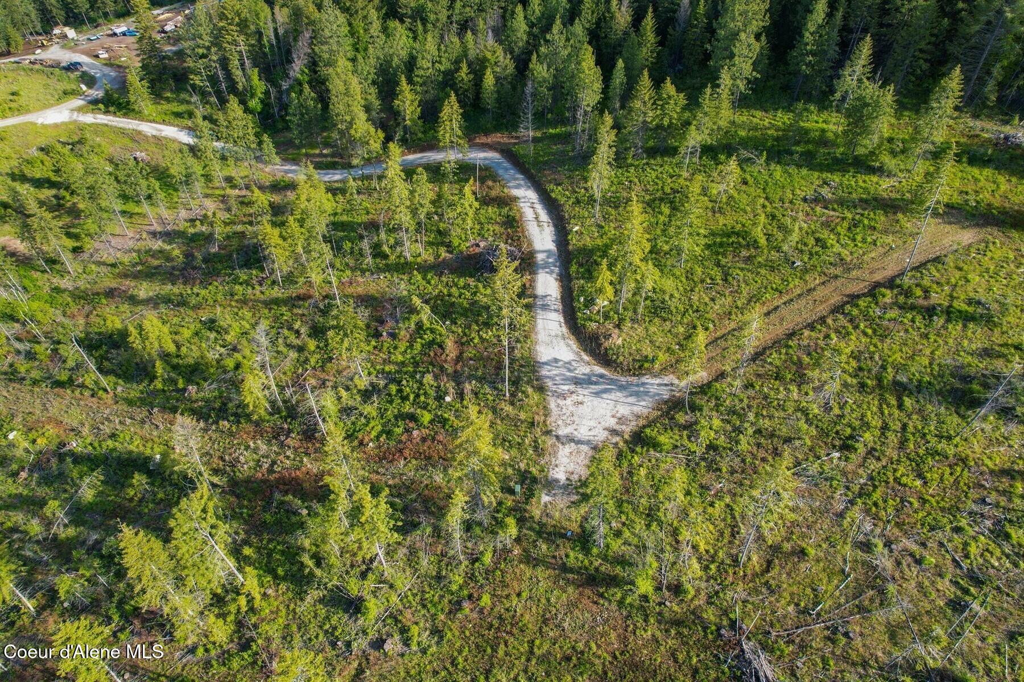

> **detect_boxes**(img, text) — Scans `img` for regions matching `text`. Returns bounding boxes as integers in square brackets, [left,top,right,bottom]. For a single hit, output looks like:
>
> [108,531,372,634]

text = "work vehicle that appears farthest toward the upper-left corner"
[32,34,50,47]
